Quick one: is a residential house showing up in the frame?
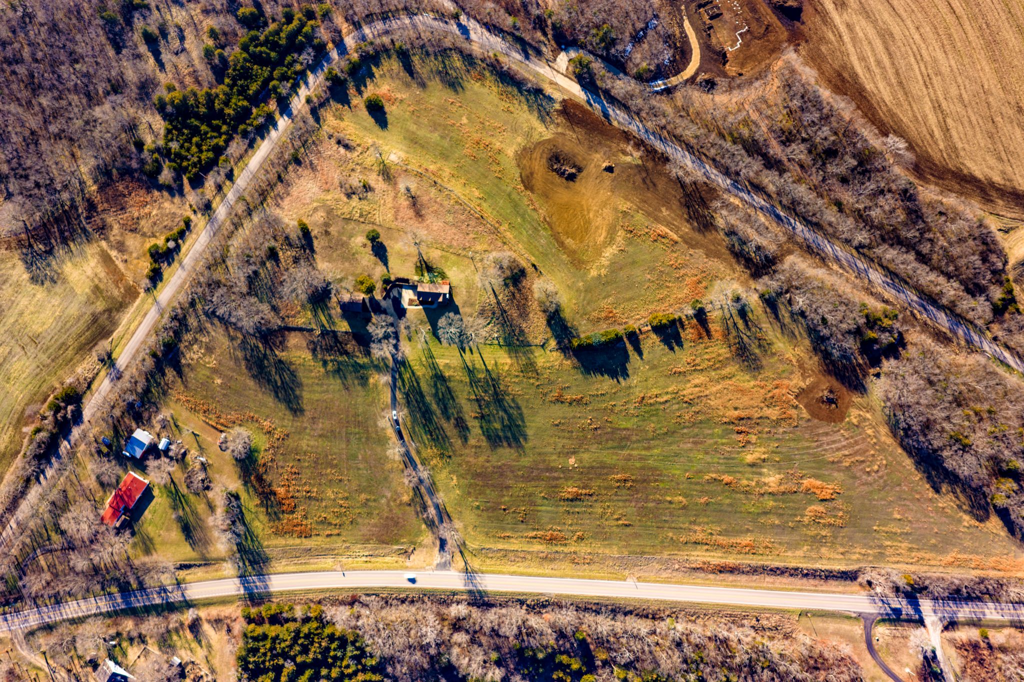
Yes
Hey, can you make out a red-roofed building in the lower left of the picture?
Yes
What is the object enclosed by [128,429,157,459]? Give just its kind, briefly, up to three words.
building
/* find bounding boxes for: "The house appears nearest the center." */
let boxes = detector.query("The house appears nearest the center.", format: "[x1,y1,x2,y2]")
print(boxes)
[417,283,450,307]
